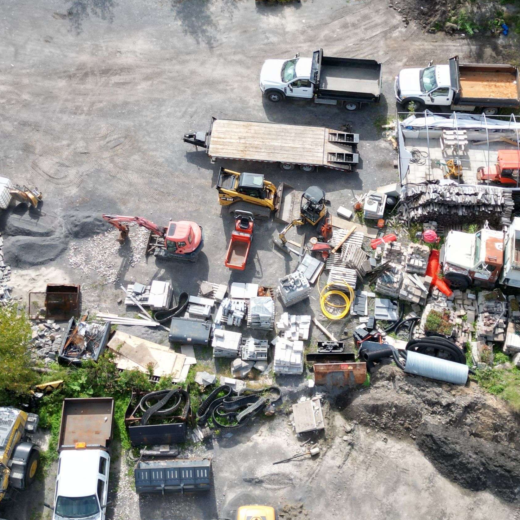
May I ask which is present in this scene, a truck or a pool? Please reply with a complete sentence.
I can see a truck in this picture.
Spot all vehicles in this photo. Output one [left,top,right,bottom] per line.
[475,140,520,180]
[102,214,213,272]
[280,191,340,244]
[394,54,520,120]
[0,401,48,520]
[213,163,308,226]
[254,47,377,113]
[36,394,122,520]
[226,202,254,266]
[427,207,520,282]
